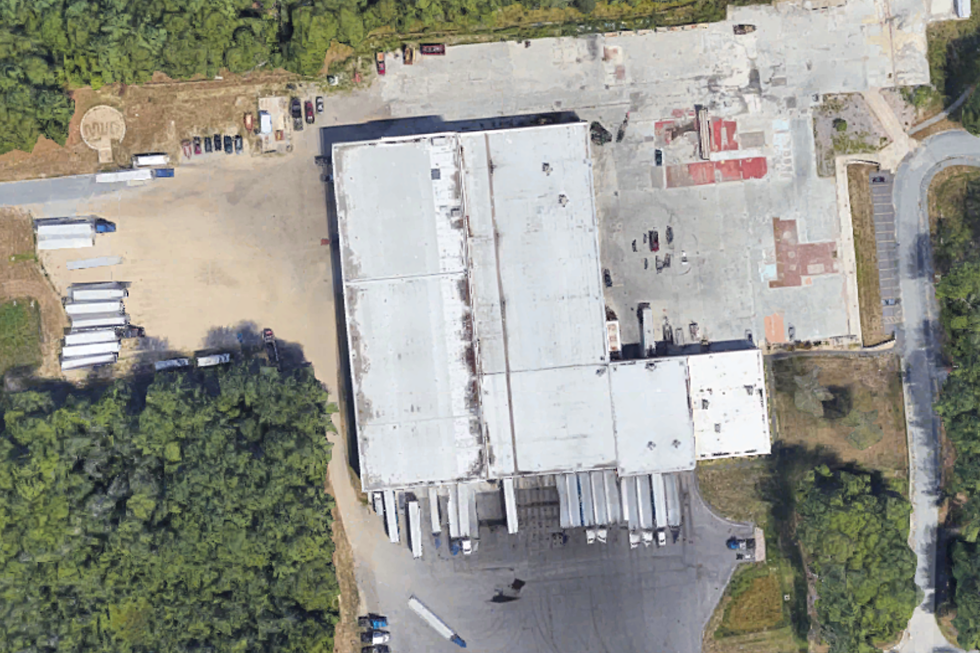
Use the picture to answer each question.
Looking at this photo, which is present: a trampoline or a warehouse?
warehouse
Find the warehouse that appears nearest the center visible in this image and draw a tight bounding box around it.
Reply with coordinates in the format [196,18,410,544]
[333,122,771,493]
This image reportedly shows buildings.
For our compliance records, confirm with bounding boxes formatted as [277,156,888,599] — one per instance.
[333,122,771,493]
[952,0,970,19]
